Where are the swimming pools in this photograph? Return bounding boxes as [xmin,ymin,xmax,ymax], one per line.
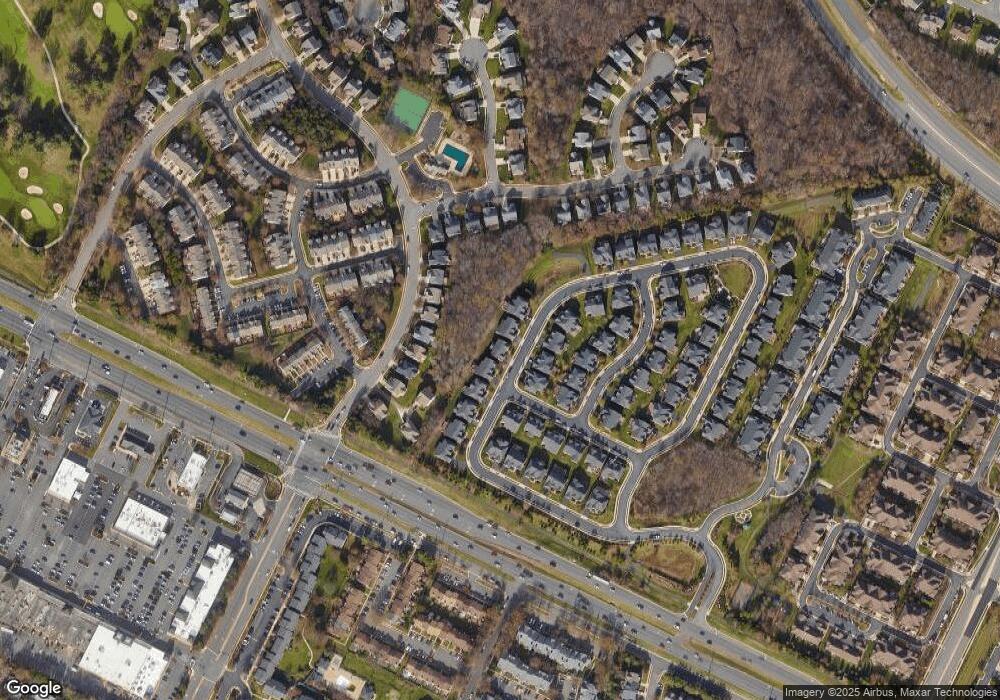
[323,655,365,700]
[436,139,475,178]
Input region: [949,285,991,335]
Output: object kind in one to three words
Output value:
building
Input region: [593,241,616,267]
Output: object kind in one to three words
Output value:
house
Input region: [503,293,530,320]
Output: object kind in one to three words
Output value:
house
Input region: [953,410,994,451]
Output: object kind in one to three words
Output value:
building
